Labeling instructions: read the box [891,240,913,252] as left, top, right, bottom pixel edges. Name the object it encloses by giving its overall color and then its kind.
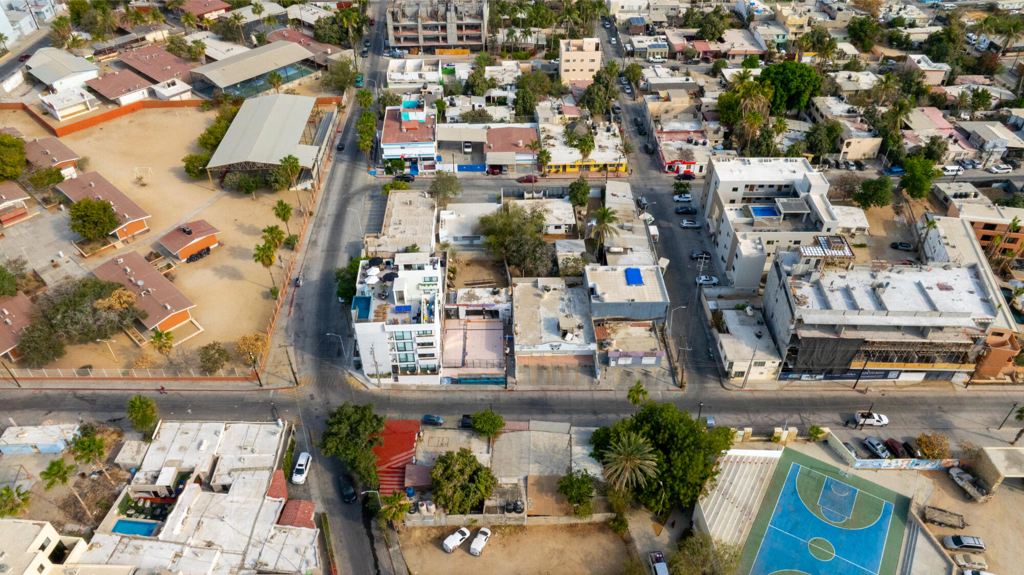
black vehicle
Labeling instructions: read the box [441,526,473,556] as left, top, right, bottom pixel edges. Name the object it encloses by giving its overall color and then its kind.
white truck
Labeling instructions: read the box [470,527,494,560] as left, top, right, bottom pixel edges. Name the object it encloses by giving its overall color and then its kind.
white truck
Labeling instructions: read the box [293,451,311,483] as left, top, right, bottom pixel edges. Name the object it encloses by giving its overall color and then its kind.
white car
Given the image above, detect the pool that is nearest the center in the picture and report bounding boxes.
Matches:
[354,298,370,320]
